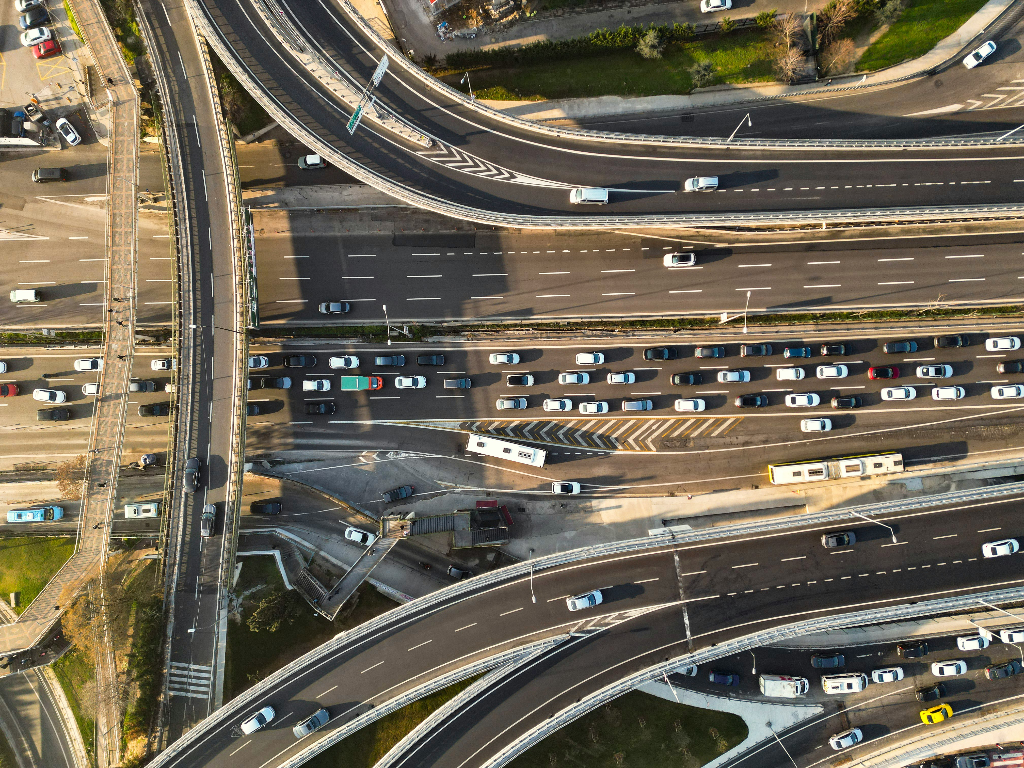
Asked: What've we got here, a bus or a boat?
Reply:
bus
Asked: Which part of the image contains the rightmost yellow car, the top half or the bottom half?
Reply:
bottom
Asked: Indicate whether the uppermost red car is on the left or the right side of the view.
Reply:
left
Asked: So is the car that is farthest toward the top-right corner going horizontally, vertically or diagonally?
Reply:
diagonally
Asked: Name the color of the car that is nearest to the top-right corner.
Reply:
white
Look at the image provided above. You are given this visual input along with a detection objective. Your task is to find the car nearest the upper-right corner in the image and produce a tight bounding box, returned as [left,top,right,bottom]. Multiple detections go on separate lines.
[963,40,996,69]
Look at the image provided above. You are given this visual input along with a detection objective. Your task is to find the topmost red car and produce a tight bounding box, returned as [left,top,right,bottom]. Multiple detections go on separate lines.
[34,40,63,60]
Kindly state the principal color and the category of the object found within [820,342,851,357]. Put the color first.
black car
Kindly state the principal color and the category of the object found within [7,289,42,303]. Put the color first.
white vehicle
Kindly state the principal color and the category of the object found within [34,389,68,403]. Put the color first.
white car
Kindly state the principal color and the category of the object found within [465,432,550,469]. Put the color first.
white bus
